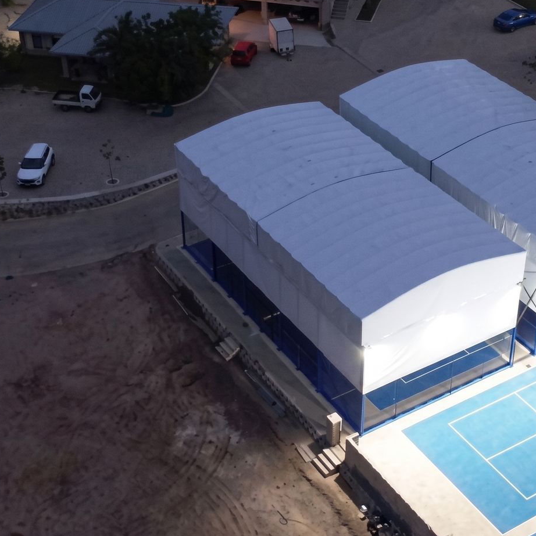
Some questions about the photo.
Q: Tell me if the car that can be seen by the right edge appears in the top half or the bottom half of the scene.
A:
top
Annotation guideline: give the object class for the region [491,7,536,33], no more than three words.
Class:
car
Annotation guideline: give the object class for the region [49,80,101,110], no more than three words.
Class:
truck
